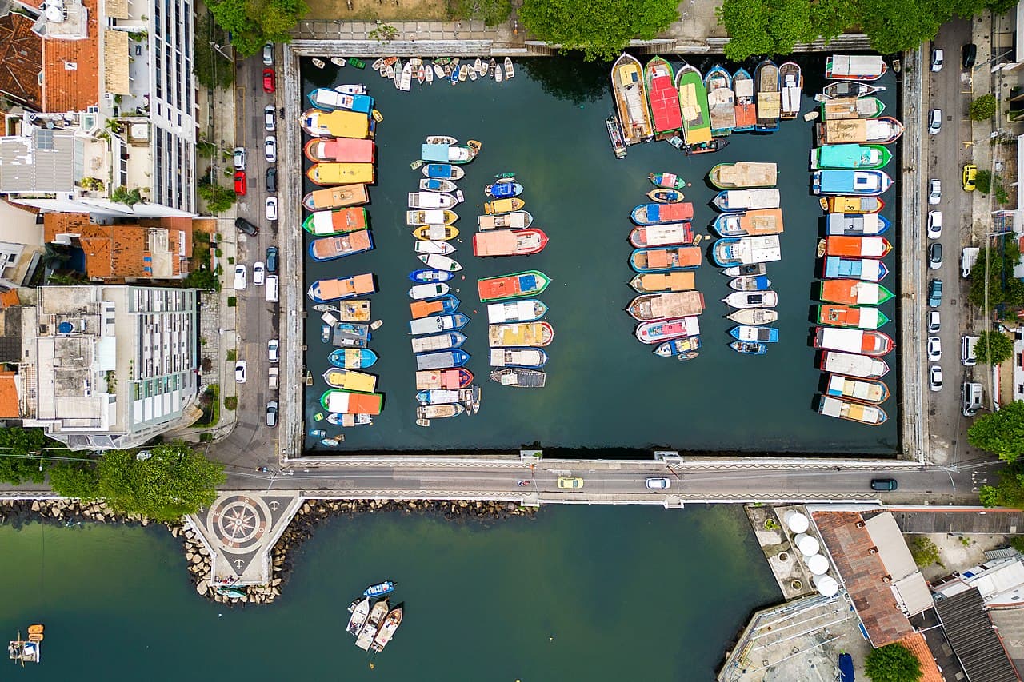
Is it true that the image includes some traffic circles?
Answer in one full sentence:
No, no traffic circle is visible in the view.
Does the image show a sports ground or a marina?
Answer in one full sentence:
The picture captures a marina.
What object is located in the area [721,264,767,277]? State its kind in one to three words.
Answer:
boat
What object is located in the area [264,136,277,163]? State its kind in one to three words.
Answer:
vehicle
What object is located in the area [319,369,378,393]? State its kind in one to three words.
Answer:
boat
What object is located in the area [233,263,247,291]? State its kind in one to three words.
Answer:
vehicle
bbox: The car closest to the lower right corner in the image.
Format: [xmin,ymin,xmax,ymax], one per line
[869,478,898,492]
